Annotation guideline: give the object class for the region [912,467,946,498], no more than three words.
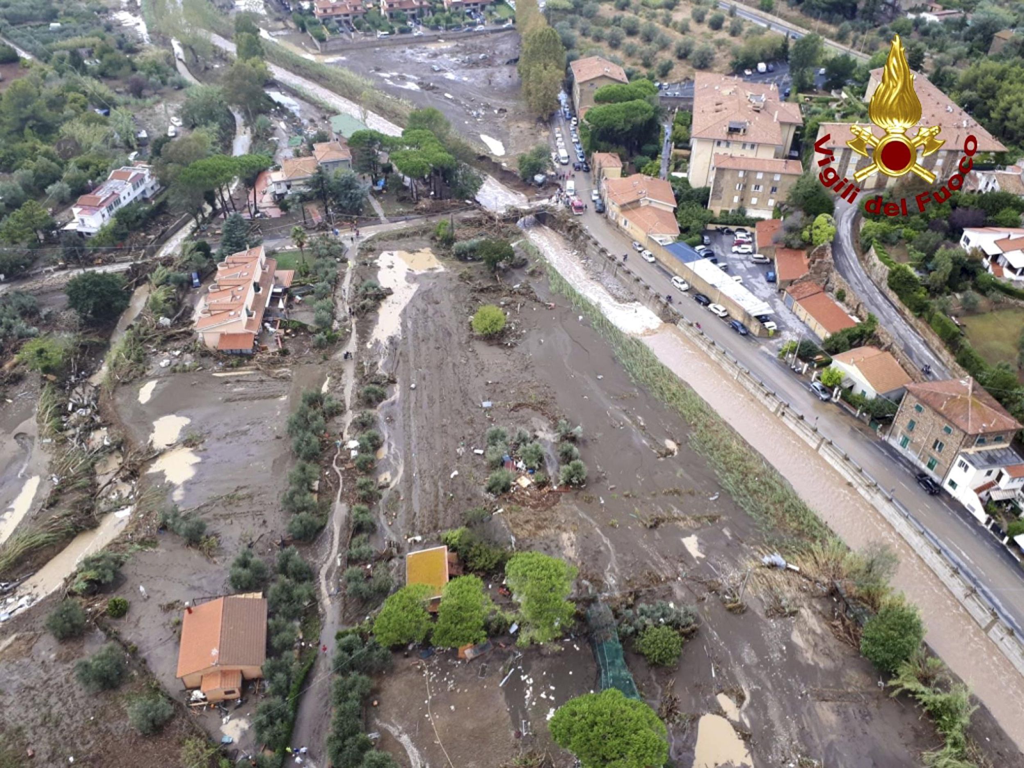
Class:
car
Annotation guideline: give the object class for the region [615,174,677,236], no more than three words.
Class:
house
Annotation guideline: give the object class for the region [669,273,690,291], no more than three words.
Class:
car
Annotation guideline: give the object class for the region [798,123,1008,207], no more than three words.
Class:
building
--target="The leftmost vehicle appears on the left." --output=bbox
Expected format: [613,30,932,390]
[51,252,69,269]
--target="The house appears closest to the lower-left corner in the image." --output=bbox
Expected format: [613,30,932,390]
[177,591,280,703]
